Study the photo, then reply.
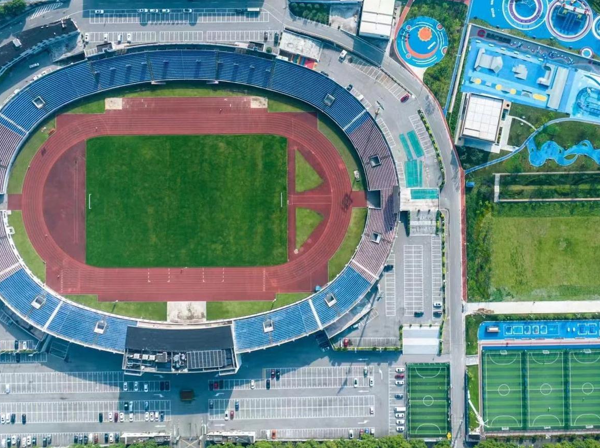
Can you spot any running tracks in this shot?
Yes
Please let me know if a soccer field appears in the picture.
Yes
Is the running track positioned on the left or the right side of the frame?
left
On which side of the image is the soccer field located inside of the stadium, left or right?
left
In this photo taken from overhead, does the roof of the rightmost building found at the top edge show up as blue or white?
white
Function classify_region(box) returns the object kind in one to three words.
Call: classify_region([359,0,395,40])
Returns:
building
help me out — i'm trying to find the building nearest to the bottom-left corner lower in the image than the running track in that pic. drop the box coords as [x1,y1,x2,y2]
[122,429,173,445]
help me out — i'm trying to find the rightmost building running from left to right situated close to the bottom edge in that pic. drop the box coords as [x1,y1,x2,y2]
[207,429,256,443]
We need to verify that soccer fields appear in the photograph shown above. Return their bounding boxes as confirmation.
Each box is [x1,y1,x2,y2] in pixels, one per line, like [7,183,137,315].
[407,363,449,438]
[86,135,288,267]
[483,350,525,431]
[568,349,600,430]
[526,350,567,430]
